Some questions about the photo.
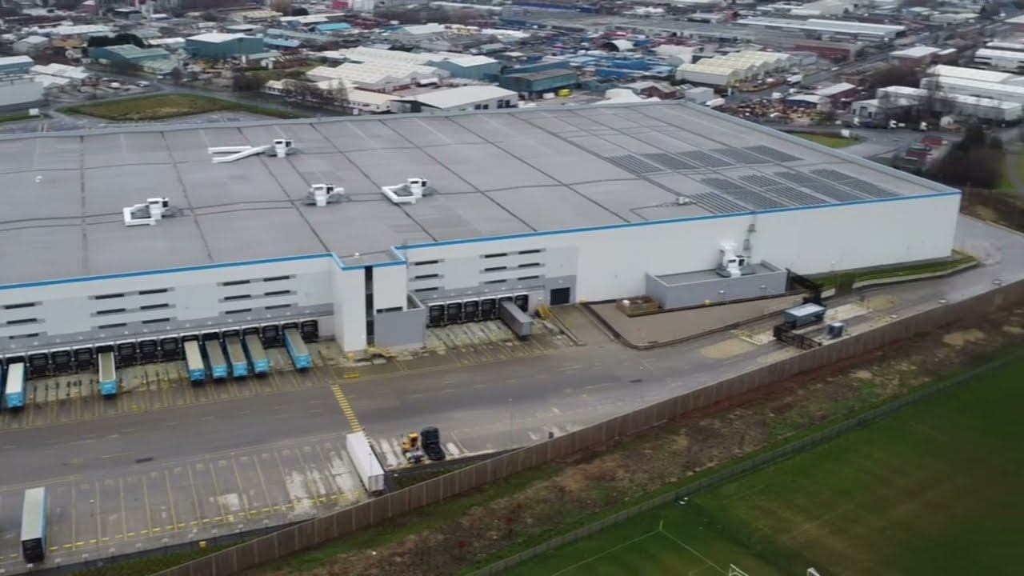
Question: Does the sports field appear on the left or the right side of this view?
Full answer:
It is on the right.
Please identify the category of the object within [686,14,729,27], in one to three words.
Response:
shed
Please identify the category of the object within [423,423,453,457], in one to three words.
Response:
truck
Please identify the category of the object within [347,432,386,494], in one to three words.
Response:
trailer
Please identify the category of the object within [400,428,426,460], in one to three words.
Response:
work vehicle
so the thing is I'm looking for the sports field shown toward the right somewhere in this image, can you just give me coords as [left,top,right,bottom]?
[485,360,1024,576]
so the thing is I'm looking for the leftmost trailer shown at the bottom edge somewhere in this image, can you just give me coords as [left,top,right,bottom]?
[21,486,48,561]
